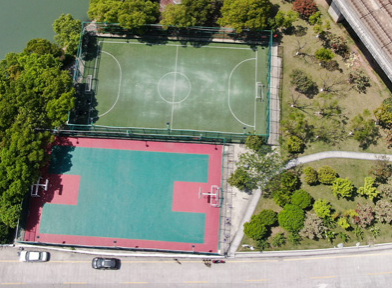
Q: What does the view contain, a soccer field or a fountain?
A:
soccer field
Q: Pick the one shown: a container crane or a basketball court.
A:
basketball court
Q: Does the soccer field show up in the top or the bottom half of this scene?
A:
top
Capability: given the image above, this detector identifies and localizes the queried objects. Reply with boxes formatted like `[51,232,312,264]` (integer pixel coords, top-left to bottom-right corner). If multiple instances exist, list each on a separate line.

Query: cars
[20,249,49,263]
[91,256,119,271]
